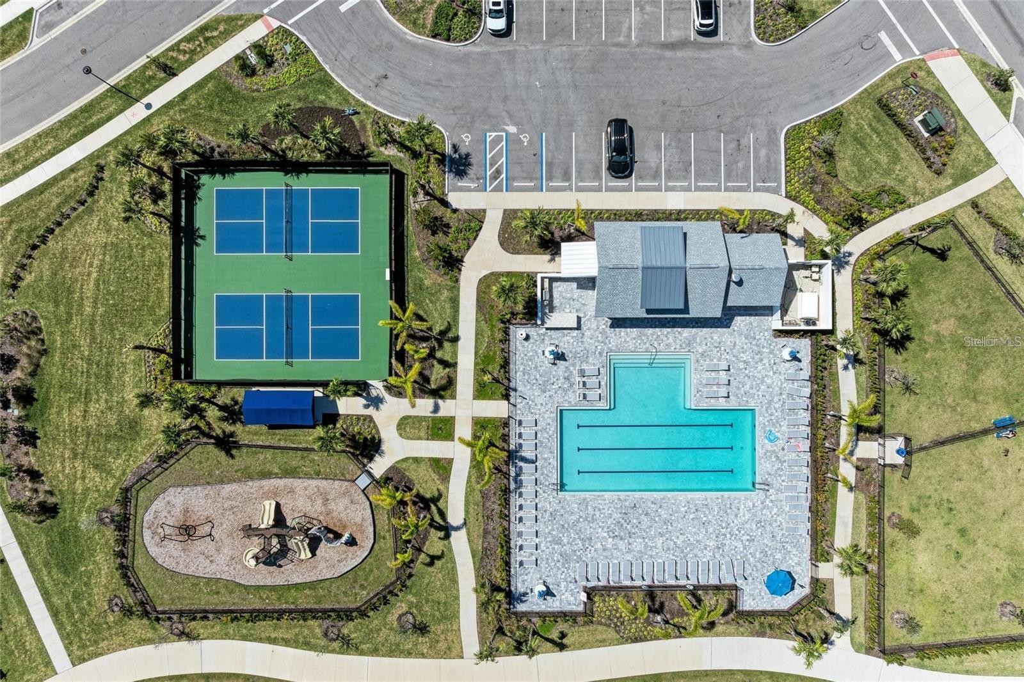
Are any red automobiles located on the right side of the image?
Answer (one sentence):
No, I see no red automobile on the right side of the image.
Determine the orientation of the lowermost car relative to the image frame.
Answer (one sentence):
The lowermost car runs vertically in the image.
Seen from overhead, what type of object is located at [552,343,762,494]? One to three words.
swimming pool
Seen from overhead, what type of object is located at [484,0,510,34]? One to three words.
car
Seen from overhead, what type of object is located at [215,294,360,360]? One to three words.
sports court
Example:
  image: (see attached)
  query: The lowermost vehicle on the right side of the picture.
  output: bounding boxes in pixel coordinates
[607,121,632,176]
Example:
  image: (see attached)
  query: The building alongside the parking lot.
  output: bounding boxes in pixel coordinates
[561,221,788,318]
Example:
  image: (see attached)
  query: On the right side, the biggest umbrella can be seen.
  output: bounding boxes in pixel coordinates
[766,570,792,596]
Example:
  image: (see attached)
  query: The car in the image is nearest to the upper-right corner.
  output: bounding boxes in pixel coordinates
[693,0,717,32]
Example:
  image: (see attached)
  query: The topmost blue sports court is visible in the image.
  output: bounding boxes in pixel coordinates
[215,187,360,254]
